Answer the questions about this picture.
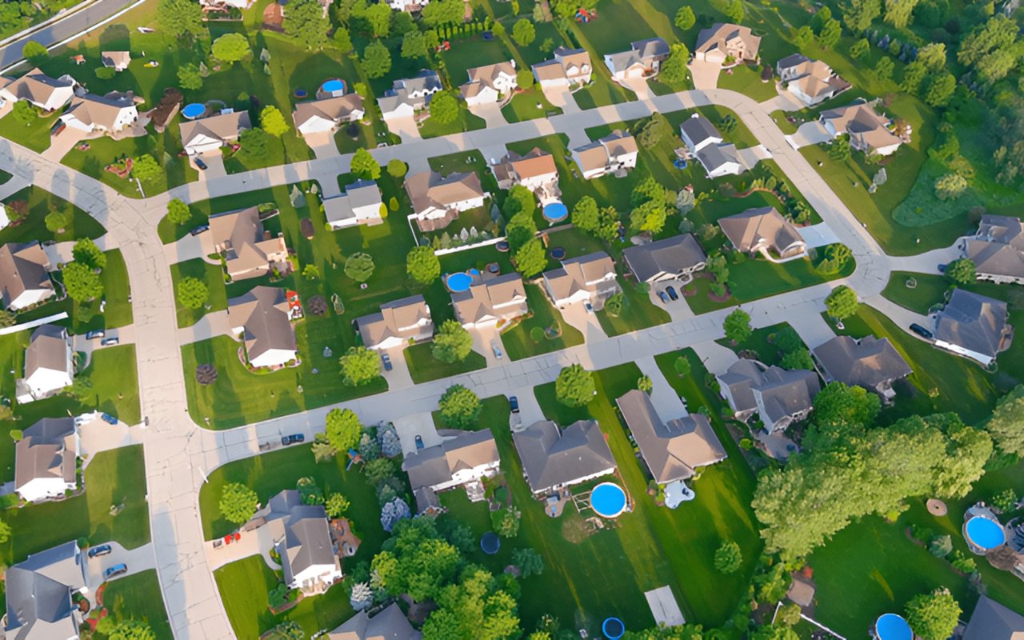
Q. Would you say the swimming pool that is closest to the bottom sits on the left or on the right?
right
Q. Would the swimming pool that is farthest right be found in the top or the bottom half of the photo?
bottom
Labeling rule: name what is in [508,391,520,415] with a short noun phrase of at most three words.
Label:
vehicle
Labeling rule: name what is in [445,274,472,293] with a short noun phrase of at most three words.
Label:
swimming pool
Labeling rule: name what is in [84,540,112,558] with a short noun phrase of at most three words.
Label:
car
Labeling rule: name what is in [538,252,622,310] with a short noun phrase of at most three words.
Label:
house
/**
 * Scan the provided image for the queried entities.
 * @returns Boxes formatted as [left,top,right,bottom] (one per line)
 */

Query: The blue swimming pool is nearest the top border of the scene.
[322,80,344,92]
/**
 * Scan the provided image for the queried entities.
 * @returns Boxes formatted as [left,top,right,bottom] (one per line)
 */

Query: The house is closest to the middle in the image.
[451,275,533,332]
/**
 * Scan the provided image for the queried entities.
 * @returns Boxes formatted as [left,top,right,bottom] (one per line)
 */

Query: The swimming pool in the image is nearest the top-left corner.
[182,105,205,119]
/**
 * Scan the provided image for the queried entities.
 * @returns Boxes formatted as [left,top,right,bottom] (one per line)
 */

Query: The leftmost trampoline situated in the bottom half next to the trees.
[479,533,500,554]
